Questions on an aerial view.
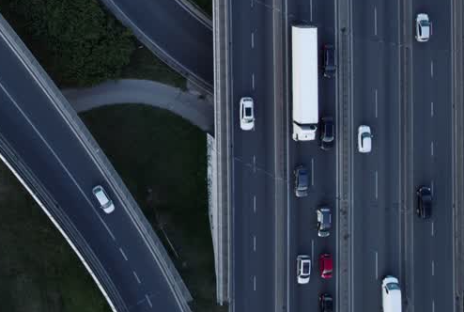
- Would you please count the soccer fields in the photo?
0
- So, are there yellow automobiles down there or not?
No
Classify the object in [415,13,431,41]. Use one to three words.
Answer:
car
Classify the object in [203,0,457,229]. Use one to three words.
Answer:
bridge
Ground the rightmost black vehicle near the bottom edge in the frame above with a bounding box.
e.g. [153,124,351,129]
[318,291,334,312]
